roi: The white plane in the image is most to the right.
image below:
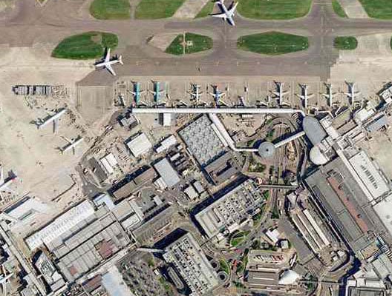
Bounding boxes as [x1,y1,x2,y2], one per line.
[344,82,362,106]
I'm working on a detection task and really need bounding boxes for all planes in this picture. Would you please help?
[95,50,125,75]
[322,83,339,106]
[190,84,205,107]
[0,170,19,197]
[0,275,13,296]
[35,107,68,132]
[344,82,362,106]
[298,85,315,108]
[213,0,240,26]
[59,138,83,156]
[271,83,289,105]
[149,82,166,104]
[209,84,225,106]
[129,83,145,104]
